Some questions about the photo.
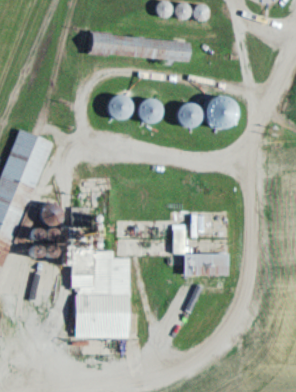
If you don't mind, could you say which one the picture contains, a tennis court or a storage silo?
storage silo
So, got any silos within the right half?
Yes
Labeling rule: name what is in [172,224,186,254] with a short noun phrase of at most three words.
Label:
building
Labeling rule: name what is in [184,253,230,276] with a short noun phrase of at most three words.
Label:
shed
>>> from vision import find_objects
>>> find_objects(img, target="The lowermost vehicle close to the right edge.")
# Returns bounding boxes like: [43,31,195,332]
[240,10,284,28]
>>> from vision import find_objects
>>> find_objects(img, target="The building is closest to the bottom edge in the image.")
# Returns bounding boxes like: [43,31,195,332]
[74,294,130,338]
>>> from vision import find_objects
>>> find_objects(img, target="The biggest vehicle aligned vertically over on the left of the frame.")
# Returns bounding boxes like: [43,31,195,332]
[30,260,42,299]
